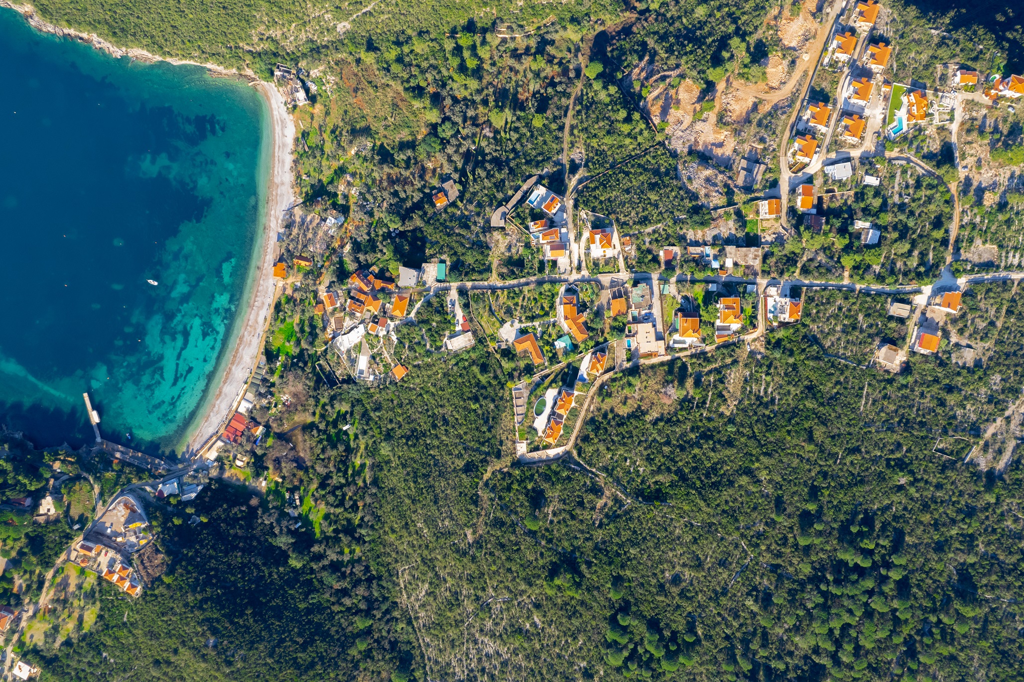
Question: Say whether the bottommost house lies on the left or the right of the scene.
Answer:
left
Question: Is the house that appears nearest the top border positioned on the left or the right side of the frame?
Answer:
right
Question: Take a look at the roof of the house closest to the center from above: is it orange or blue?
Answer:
orange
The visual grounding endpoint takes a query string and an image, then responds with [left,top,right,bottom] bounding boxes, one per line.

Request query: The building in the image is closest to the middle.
[513,335,543,365]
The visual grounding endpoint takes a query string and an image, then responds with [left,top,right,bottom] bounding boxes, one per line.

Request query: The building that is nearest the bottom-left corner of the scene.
[13,659,36,680]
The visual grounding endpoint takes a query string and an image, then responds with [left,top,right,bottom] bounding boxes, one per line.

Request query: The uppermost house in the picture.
[844,0,880,34]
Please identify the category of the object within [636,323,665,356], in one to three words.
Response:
building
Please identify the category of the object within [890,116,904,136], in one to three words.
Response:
swimming pool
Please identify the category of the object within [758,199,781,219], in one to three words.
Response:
house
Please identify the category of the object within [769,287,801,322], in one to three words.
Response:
house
